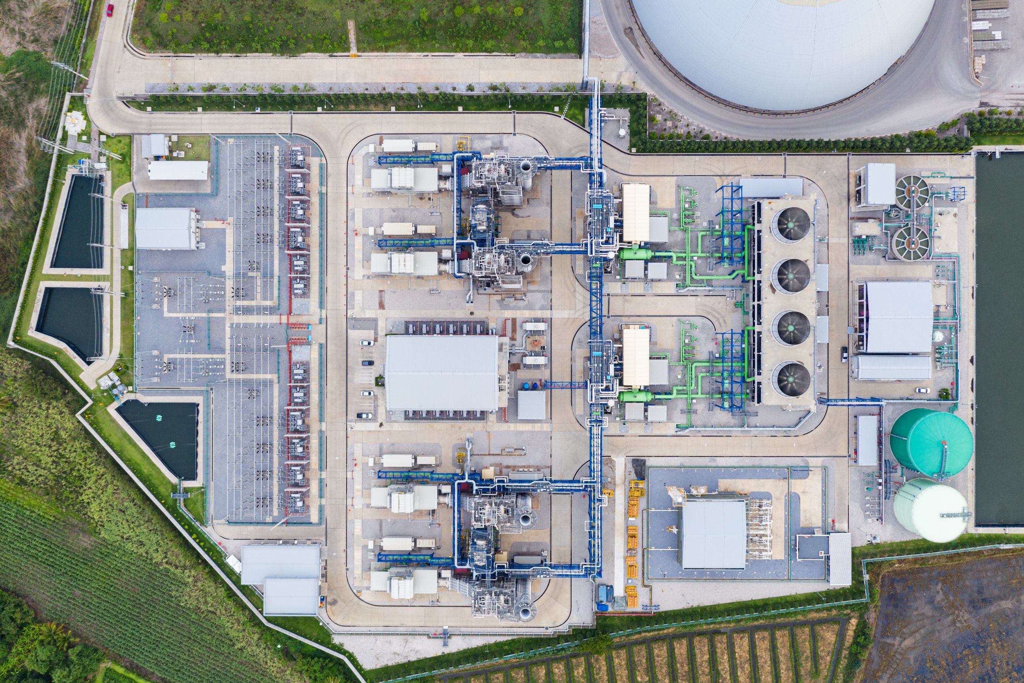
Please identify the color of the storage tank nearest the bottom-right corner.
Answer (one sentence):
The storage tank nearest the bottom-right corner is white.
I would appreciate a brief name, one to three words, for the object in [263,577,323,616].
building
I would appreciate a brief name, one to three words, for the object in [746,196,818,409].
cooling tower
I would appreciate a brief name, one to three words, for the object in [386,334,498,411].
building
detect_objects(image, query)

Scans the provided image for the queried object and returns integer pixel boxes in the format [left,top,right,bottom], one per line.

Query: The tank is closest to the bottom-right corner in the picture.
[884,474,966,544]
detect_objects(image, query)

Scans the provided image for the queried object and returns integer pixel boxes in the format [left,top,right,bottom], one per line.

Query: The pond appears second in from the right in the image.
[107,393,203,487]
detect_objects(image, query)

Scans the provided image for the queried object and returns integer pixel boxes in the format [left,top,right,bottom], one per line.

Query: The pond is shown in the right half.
[970,150,1024,533]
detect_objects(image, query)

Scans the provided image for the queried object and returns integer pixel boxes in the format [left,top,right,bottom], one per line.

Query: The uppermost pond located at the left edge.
[42,165,112,274]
